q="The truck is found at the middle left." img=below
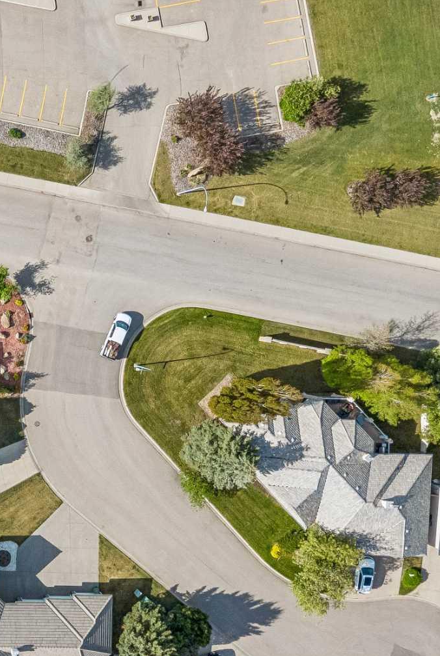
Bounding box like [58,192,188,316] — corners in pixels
[101,311,133,360]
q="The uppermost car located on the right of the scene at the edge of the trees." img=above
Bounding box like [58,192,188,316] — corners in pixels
[358,558,380,597]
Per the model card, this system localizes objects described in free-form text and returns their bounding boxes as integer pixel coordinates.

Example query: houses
[0,588,112,656]
[233,395,434,557]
